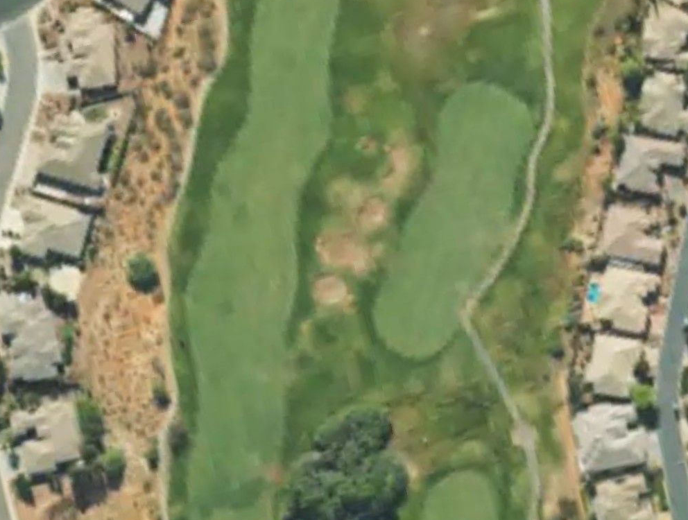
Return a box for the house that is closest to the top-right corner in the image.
[639,0,688,60]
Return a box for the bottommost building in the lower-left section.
[2,395,86,478]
